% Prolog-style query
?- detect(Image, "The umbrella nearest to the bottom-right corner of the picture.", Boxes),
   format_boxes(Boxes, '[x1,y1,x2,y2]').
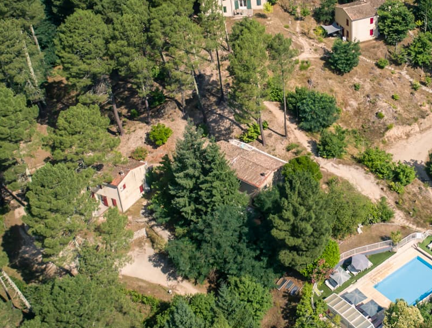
[361,294,383,315]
